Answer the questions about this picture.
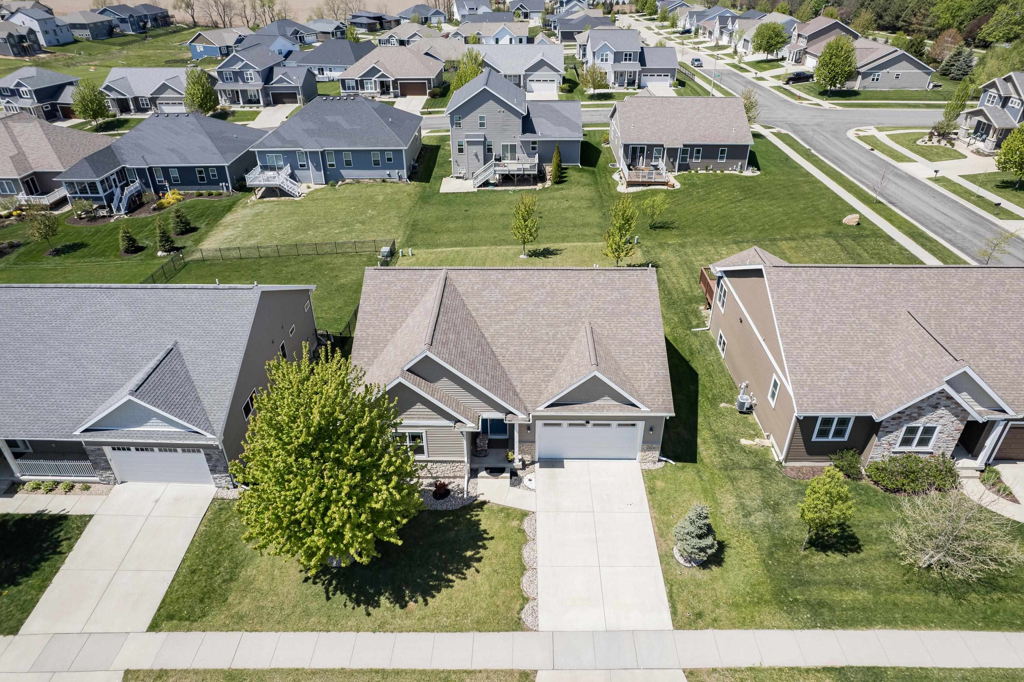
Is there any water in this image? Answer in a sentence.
No, there's no water in this view.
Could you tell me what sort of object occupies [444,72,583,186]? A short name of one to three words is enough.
house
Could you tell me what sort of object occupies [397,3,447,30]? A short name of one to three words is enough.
house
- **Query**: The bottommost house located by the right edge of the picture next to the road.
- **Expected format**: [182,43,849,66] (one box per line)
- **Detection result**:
[692,248,1024,487]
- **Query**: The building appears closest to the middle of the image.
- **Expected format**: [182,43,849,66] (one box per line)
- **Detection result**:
[349,259,683,491]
